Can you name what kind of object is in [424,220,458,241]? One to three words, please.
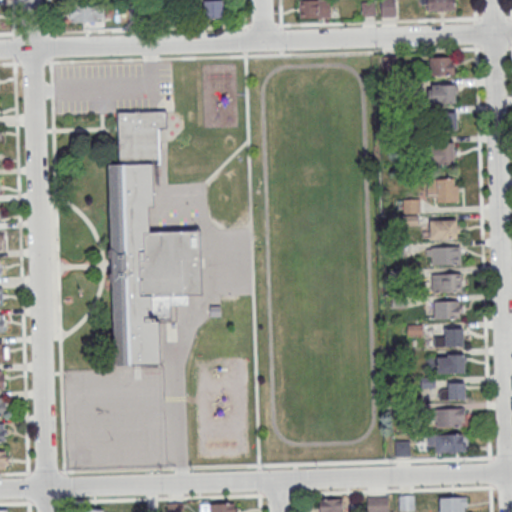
house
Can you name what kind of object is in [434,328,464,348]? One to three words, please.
house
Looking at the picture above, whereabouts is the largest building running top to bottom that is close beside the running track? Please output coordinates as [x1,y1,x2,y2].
[108,112,202,366]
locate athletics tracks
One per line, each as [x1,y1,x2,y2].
[262,64,375,446]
